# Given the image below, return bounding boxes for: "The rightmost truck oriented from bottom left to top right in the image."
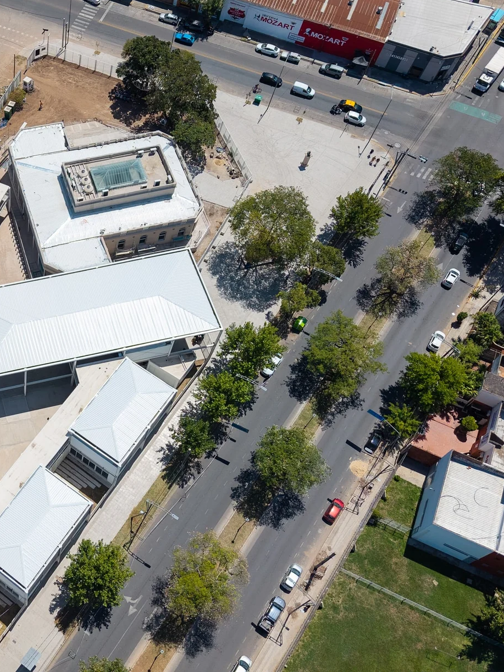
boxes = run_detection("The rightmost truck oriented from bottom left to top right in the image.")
[472,46,504,96]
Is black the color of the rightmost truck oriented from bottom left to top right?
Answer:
No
